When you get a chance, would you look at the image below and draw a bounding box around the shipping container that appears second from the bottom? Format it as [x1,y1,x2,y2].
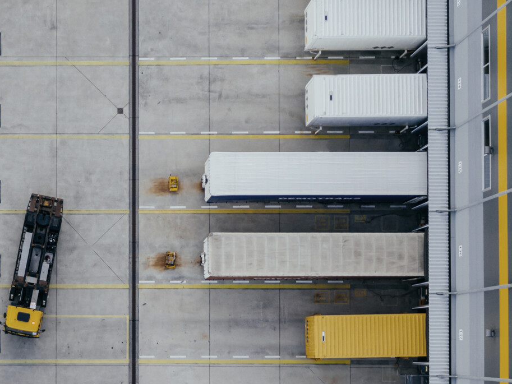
[305,74,427,133]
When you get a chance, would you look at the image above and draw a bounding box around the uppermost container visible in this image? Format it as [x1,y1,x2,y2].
[305,0,427,58]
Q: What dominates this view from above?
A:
paved ground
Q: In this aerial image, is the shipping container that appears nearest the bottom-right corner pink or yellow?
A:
yellow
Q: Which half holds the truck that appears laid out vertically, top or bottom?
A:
bottom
